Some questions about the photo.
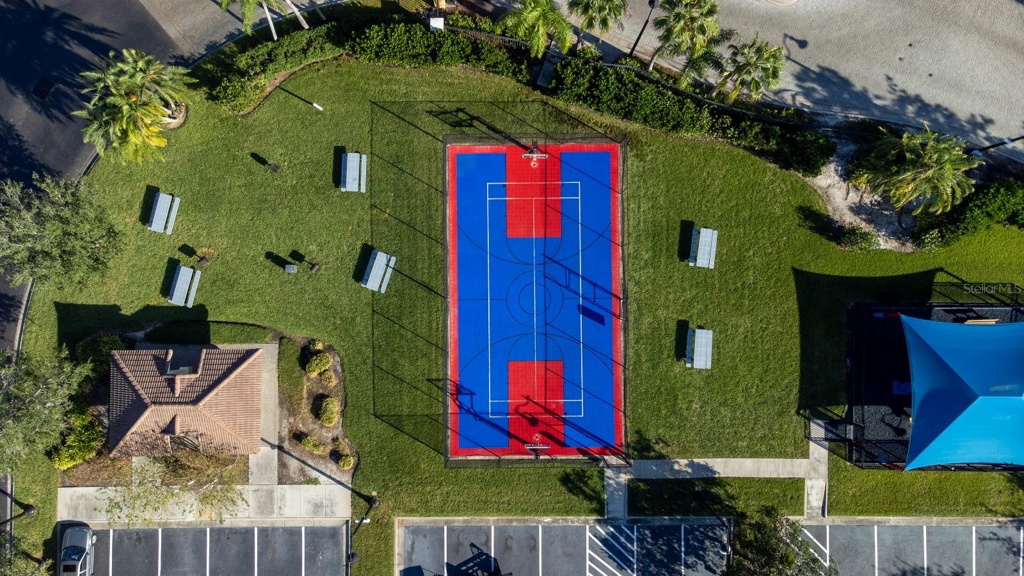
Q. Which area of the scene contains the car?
bottom left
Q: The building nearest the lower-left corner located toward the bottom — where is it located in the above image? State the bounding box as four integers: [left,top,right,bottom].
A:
[108,348,264,458]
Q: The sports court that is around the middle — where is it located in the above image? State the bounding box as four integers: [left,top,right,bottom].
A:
[445,139,626,459]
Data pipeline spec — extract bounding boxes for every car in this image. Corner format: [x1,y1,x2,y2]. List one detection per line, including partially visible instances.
[58,525,102,576]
